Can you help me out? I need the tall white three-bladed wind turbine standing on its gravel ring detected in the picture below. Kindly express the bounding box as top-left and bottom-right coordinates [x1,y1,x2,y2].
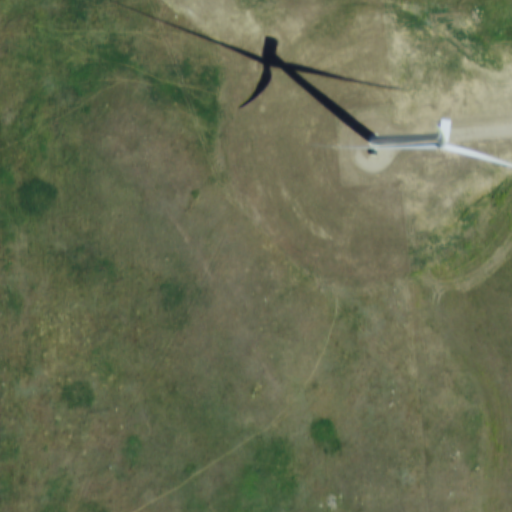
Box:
[320,114,512,165]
